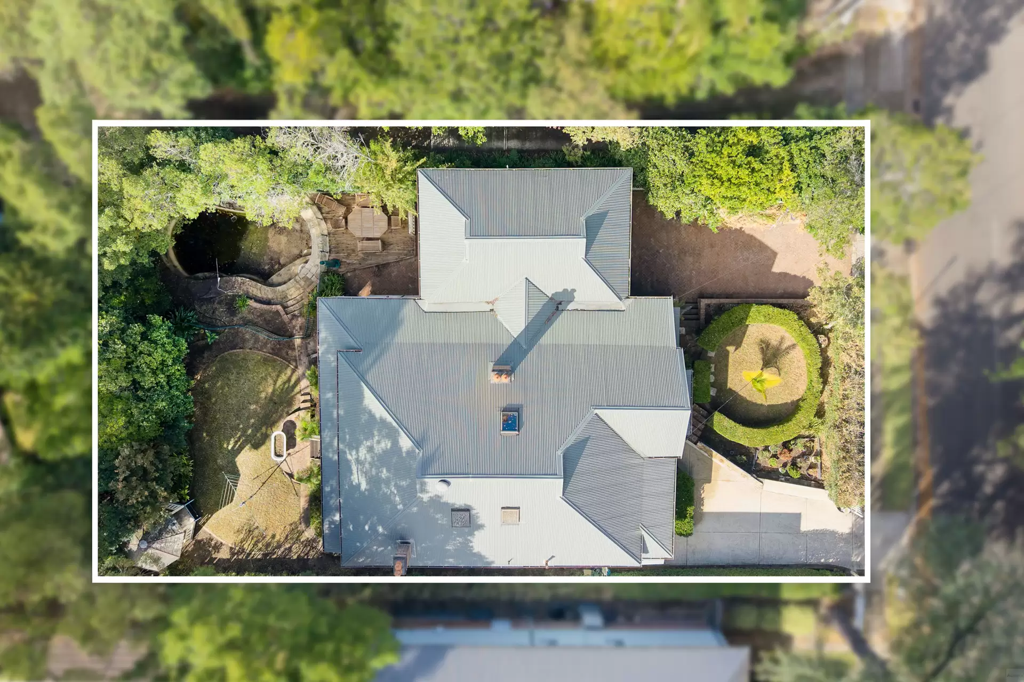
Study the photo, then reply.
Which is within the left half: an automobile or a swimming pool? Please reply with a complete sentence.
The one visible within the left half is a swimming pool.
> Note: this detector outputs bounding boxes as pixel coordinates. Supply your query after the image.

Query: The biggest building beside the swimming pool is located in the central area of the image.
[311,134,696,579]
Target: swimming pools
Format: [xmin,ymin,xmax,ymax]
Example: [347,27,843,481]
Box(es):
[166,202,322,289]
